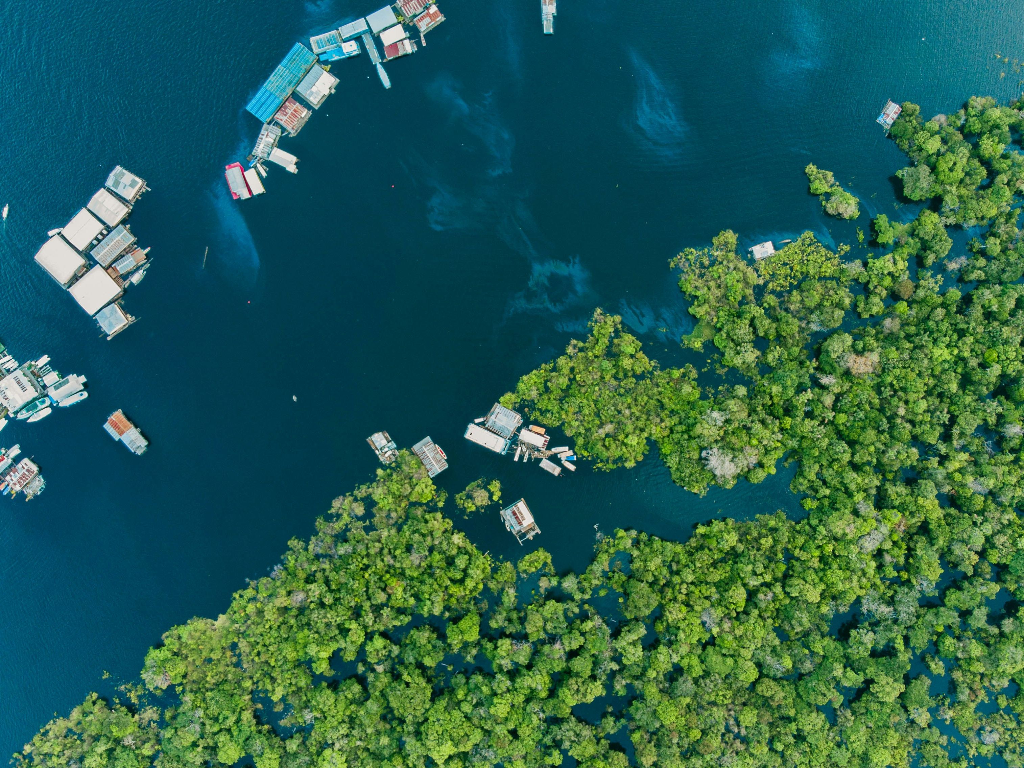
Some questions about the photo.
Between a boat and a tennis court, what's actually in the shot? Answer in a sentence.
This aerial view contains a boat.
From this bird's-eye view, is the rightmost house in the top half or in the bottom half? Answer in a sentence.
You can find the rightmost house in the top half.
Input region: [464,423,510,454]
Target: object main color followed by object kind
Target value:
white vessel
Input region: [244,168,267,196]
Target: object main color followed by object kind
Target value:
white boat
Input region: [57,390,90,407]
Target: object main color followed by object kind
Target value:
white boat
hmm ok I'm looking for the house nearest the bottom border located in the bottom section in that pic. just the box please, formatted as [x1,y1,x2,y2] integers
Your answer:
[501,498,541,546]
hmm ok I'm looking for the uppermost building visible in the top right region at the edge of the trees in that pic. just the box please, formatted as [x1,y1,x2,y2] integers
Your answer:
[876,98,901,129]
